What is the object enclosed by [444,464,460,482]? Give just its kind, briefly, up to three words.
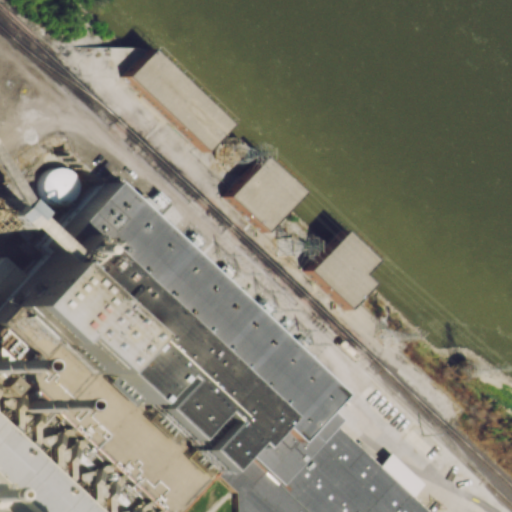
vehicle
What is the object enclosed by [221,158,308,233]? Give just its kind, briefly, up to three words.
building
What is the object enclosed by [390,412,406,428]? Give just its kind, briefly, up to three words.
vehicle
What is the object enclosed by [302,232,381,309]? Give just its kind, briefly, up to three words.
building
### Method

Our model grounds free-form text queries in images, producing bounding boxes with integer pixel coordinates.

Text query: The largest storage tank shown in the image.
[35,168,82,208]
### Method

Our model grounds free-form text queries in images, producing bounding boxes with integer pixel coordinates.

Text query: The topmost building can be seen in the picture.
[120,50,237,152]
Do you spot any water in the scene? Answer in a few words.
Yes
